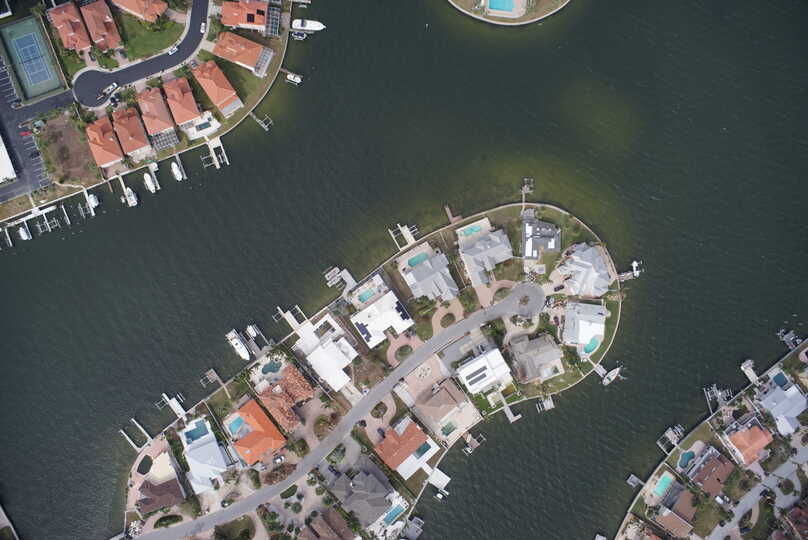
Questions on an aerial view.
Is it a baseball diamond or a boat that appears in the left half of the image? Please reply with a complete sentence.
There is a boat in the left half of the image.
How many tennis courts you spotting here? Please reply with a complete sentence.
I count 1 tennis court.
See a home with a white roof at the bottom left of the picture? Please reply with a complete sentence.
Yes, you'll find a home with a white roof at the bottom left of the picture.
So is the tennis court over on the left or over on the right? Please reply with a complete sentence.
The tennis court is on the left side of the image.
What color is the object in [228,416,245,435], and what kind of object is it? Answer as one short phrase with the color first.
blue swimming pool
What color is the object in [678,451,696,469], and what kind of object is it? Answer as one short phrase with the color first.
blue swimming pool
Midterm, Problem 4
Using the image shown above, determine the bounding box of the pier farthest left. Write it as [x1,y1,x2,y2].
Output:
[0,205,58,247]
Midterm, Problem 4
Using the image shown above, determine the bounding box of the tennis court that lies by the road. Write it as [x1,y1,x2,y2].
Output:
[2,19,62,98]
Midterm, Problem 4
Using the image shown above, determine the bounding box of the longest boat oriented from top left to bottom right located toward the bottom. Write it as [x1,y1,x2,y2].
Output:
[226,328,249,360]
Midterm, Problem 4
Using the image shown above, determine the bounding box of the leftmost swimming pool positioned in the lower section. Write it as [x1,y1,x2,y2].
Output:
[137,454,153,475]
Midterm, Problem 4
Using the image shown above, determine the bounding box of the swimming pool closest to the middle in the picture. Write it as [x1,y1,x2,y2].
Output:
[407,251,429,268]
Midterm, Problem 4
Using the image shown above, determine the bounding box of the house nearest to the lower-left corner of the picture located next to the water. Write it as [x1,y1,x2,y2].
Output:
[138,451,186,514]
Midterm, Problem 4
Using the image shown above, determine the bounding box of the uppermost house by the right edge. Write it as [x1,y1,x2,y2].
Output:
[761,384,806,436]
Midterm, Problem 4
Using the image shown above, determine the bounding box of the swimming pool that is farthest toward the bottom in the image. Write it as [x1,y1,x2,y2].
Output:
[383,504,405,527]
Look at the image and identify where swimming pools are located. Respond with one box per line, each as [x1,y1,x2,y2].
[184,418,211,443]
[583,336,600,354]
[441,422,458,437]
[383,504,405,527]
[228,416,245,435]
[407,251,429,268]
[488,0,516,13]
[261,360,282,374]
[357,287,375,304]
[678,451,696,469]
[137,454,153,475]
[653,474,675,498]
[462,224,482,235]
[415,442,432,459]
[195,121,212,132]
[772,372,790,388]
